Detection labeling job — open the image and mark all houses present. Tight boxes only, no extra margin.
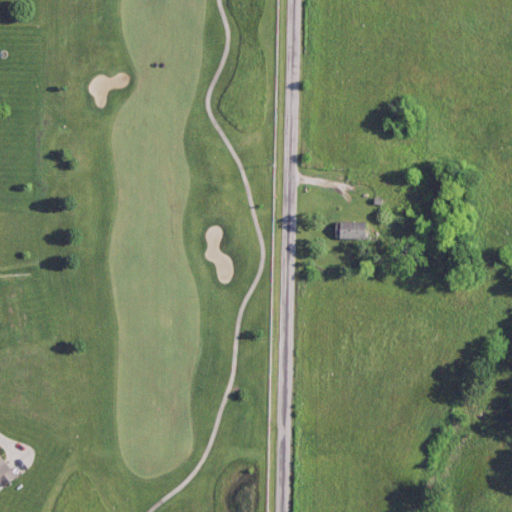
[0,460,18,490]
[336,222,370,240]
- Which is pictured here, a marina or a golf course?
golf course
